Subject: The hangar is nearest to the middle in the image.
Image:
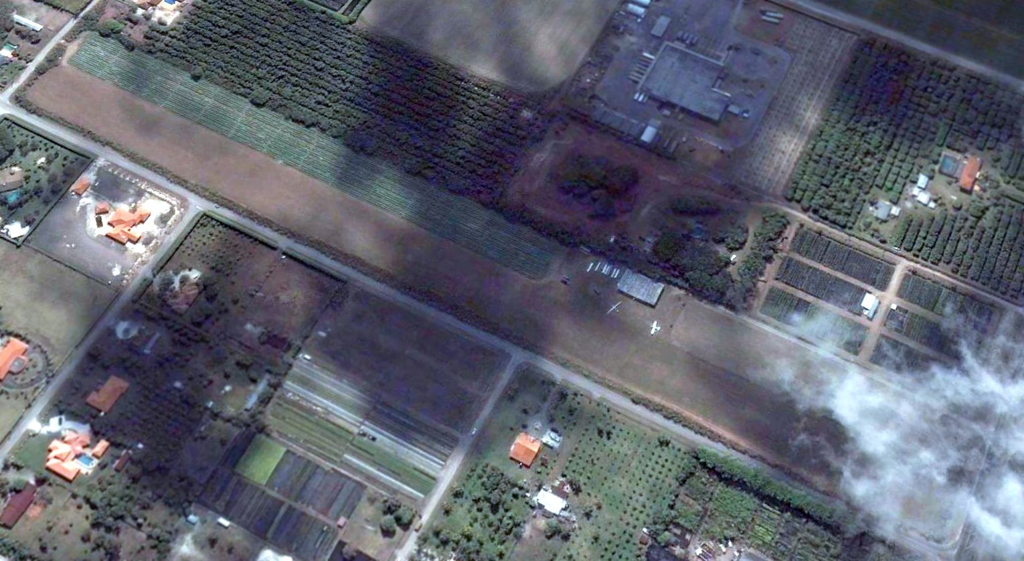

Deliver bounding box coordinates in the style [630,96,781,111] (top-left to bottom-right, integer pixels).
[617,268,665,306]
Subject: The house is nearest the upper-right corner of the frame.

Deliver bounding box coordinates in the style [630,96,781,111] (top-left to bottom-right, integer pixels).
[960,155,982,189]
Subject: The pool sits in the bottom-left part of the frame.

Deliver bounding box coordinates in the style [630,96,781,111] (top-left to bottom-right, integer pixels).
[75,450,96,468]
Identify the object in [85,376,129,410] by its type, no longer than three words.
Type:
house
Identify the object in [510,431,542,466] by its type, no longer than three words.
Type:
house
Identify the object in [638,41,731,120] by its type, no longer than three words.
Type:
building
